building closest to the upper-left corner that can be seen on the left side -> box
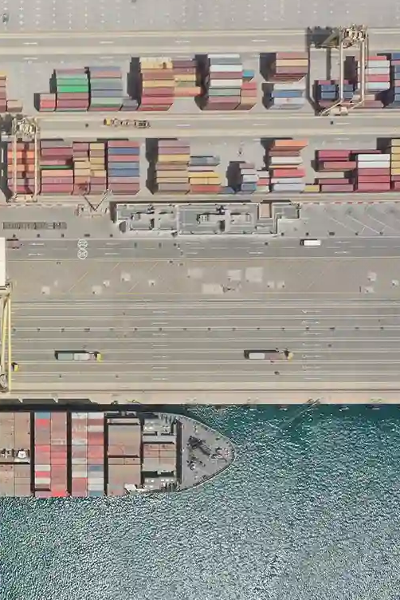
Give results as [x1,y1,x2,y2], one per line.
[116,204,177,235]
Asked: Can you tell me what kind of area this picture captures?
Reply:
port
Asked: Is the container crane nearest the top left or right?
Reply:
right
